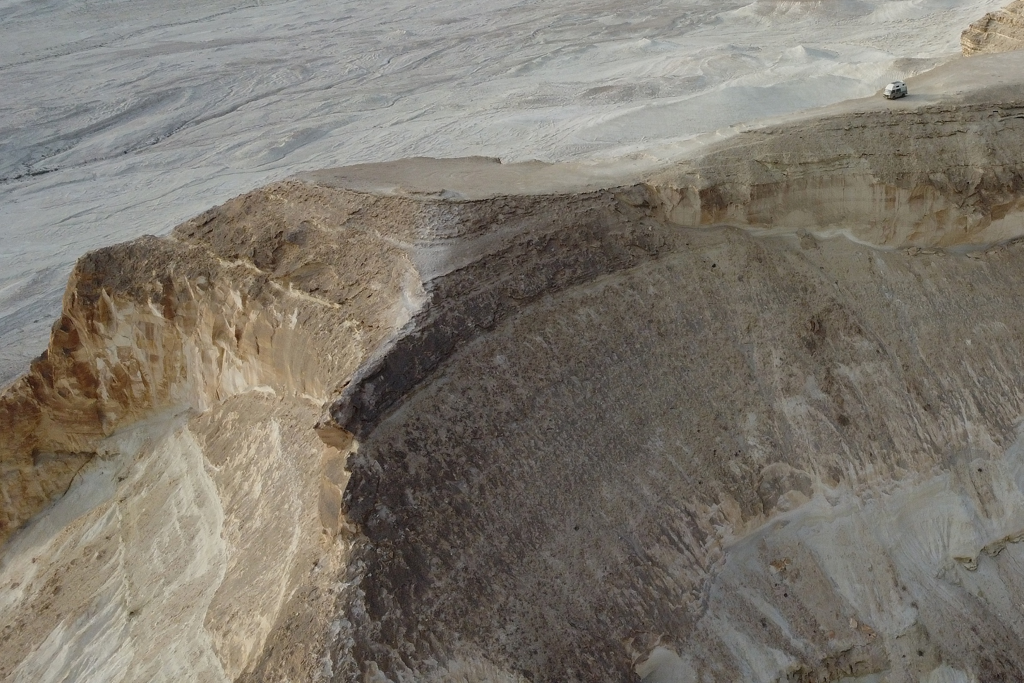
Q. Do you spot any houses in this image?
No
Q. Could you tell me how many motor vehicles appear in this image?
1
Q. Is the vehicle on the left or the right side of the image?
right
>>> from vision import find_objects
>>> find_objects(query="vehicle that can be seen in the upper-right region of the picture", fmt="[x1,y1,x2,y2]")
[886,81,913,102]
